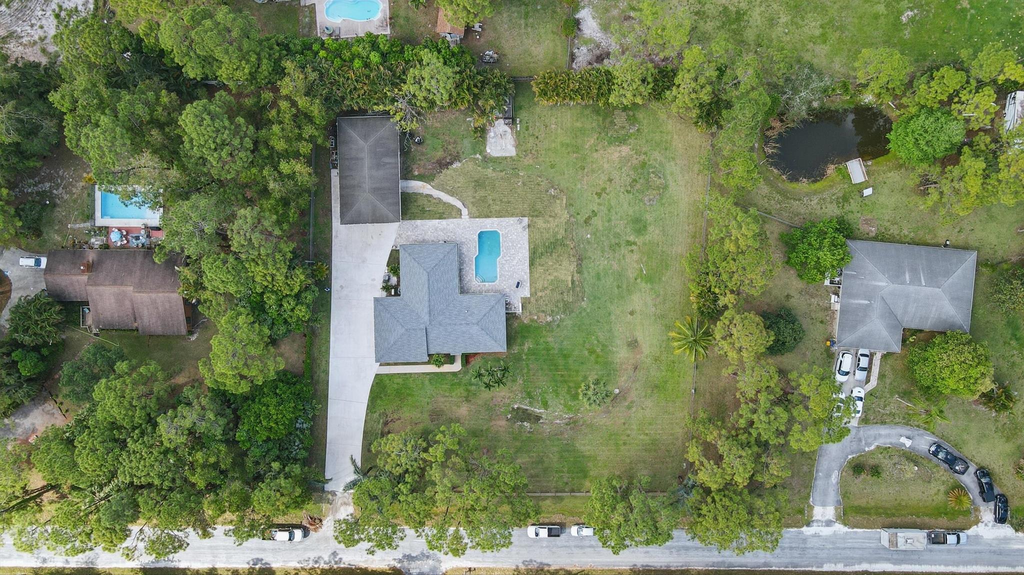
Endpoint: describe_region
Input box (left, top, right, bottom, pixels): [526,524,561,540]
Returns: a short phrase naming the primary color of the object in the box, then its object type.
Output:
white vehicle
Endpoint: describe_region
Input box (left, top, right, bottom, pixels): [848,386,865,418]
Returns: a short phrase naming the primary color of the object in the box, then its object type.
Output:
white car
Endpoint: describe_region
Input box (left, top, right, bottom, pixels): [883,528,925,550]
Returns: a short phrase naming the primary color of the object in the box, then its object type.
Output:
white trailer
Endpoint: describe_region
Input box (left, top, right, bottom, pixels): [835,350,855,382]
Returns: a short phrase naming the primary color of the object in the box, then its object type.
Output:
white car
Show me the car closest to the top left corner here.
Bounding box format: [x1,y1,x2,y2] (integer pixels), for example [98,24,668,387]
[17,254,44,269]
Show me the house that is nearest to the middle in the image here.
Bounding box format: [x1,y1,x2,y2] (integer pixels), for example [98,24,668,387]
[373,242,507,363]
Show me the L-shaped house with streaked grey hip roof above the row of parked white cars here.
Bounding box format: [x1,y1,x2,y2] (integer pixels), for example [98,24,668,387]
[832,239,977,353]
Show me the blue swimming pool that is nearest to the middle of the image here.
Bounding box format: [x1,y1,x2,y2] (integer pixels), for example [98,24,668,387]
[473,228,502,285]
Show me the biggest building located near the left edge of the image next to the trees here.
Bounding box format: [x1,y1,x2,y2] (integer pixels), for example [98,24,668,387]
[44,249,192,335]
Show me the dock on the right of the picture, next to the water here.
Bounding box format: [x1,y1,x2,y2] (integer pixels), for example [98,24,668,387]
[844,157,870,184]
